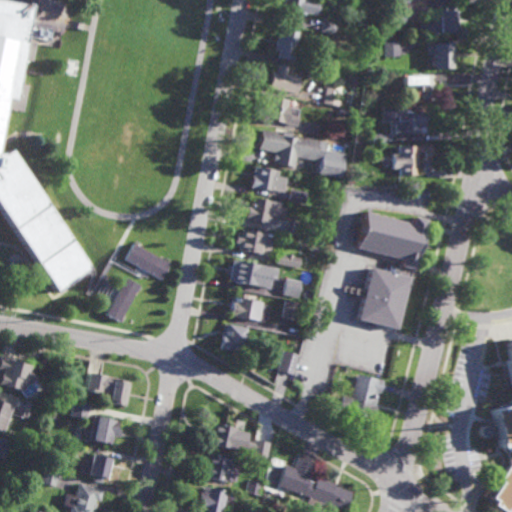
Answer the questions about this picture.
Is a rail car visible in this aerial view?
No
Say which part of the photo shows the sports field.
top left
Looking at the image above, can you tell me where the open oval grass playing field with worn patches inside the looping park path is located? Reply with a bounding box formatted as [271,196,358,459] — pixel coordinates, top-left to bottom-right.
[72,0,206,214]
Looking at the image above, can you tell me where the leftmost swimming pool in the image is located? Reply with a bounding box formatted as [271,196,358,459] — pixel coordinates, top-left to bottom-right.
[21,380,40,398]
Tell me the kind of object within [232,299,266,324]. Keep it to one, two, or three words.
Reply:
house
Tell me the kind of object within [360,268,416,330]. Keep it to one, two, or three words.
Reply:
building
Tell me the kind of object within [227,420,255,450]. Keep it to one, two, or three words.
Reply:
house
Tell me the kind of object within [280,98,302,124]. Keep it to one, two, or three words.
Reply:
building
